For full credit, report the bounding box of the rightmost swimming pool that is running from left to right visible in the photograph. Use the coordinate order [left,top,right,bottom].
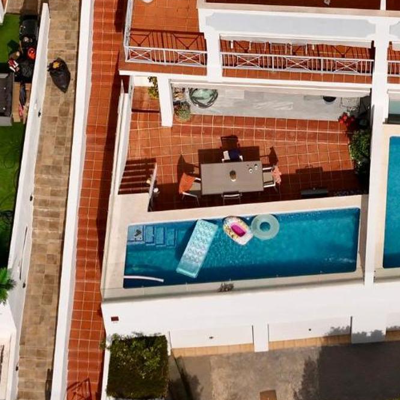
[103,195,368,293]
